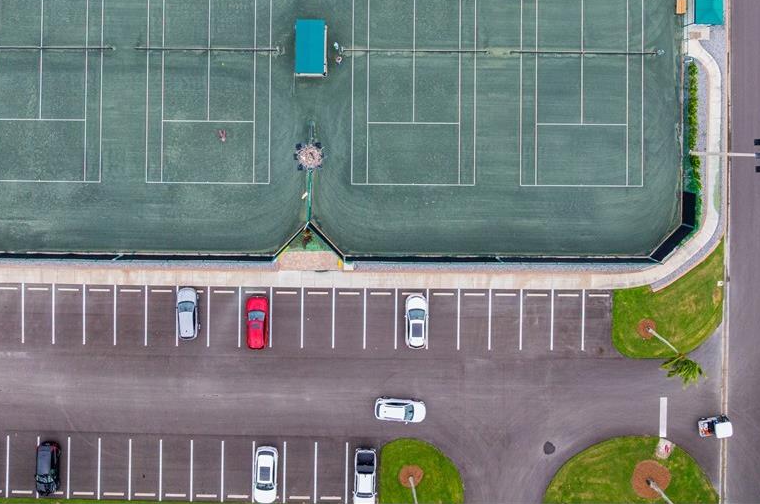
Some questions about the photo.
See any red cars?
Yes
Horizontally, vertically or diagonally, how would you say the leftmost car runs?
vertically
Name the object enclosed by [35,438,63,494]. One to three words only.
car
